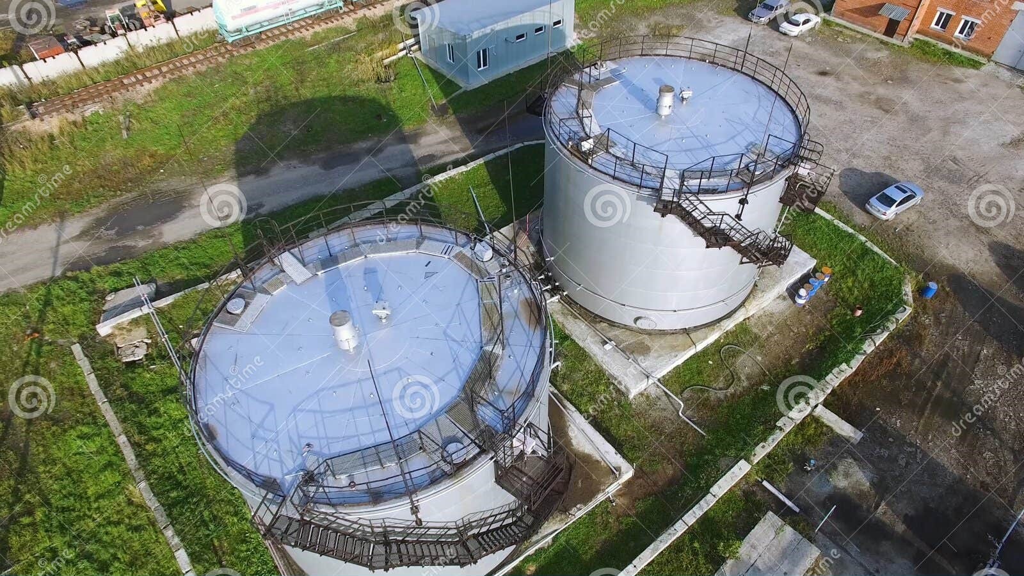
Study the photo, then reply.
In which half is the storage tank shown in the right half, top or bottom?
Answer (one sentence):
It is in the top half that the storage tank shown in the right half appears.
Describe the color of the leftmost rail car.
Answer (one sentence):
The leftmost rail car looks white in the image.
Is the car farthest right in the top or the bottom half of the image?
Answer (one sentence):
You can find the car farthest right in the top half.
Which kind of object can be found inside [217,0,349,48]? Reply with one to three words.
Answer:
rail car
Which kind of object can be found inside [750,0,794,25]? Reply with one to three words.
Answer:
car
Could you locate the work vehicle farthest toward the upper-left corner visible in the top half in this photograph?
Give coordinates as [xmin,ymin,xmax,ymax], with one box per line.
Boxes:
[100,8,126,39]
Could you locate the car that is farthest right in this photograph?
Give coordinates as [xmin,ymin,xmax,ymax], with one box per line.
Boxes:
[868,181,925,219]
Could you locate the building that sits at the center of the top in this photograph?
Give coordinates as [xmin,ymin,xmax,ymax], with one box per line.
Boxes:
[414,0,575,91]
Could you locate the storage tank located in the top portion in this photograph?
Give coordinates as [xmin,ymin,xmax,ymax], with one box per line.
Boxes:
[519,0,833,334]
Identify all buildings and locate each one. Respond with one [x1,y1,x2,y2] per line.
[14,25,67,63]
[414,0,575,91]
[820,0,1024,78]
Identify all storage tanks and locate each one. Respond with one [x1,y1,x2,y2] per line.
[519,0,833,334]
[176,98,581,576]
